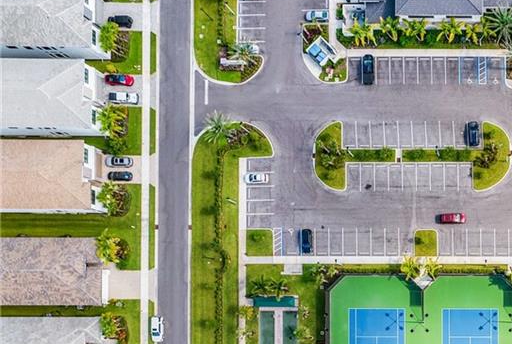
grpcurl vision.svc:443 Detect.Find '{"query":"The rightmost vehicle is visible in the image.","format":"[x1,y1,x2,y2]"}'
[466,121,479,147]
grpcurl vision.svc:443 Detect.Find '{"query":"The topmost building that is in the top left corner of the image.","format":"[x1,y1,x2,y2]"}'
[0,0,108,55]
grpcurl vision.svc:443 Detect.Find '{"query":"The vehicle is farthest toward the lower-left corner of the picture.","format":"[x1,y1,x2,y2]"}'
[150,317,165,341]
